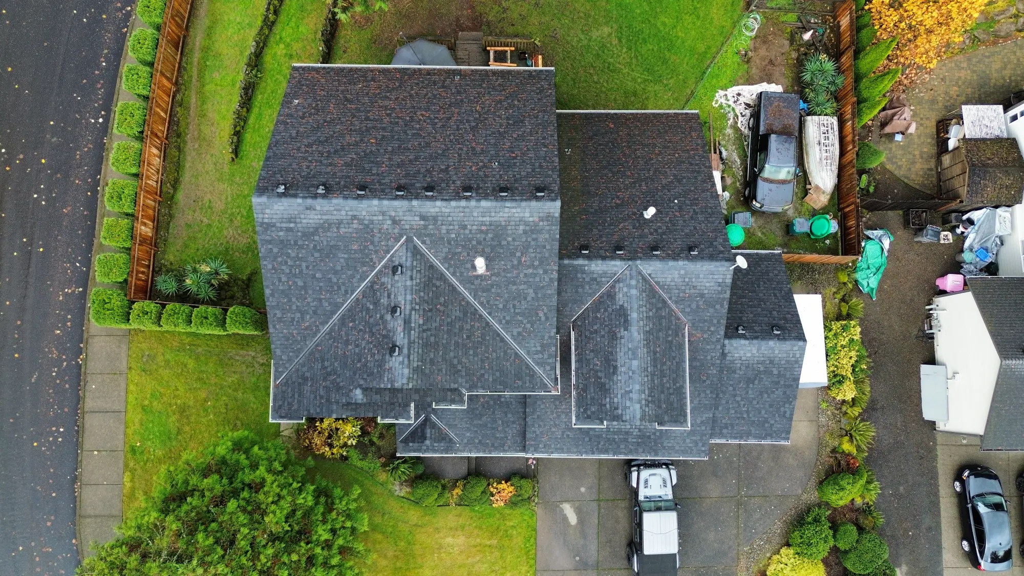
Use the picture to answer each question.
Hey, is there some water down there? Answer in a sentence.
No, the scene doesn't show any water.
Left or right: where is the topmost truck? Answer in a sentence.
It is on the right.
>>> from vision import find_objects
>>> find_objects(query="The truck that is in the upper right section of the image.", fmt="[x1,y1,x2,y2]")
[742,98,797,215]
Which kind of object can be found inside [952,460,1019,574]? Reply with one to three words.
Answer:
car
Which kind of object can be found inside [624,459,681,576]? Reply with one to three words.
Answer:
truck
